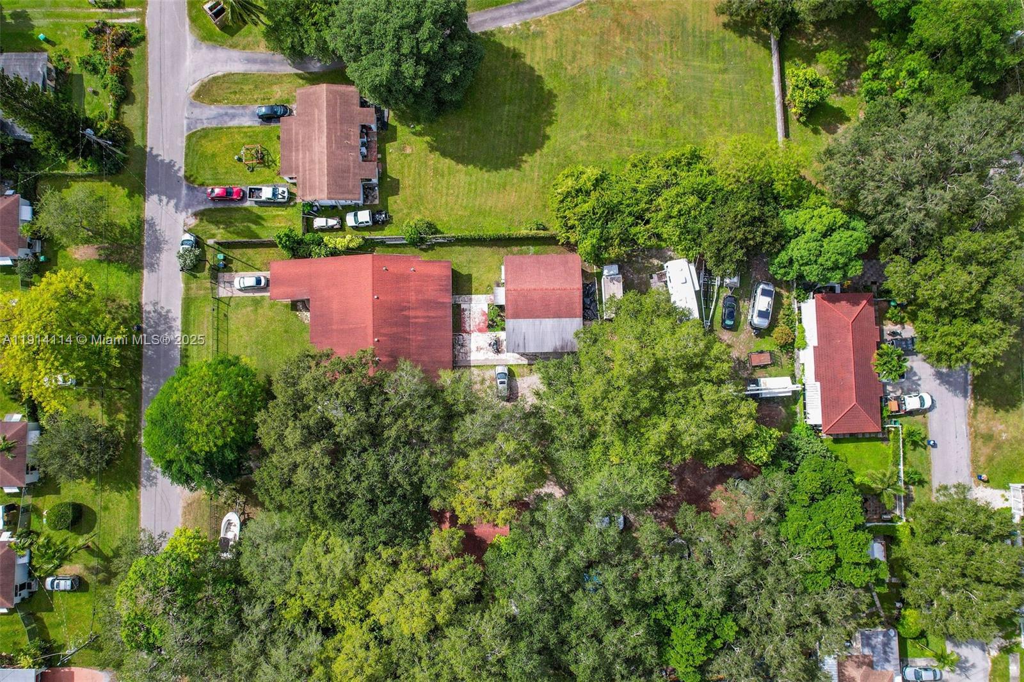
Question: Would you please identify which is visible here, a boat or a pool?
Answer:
boat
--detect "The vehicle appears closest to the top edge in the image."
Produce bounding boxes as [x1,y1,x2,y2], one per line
[256,103,291,120]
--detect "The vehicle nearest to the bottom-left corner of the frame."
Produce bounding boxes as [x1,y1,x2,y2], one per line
[44,574,83,593]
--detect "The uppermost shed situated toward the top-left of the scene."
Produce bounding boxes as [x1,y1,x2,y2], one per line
[203,0,234,29]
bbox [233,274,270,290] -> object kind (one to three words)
car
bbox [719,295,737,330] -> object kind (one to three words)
car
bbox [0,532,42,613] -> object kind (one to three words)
house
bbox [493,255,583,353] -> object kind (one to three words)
building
